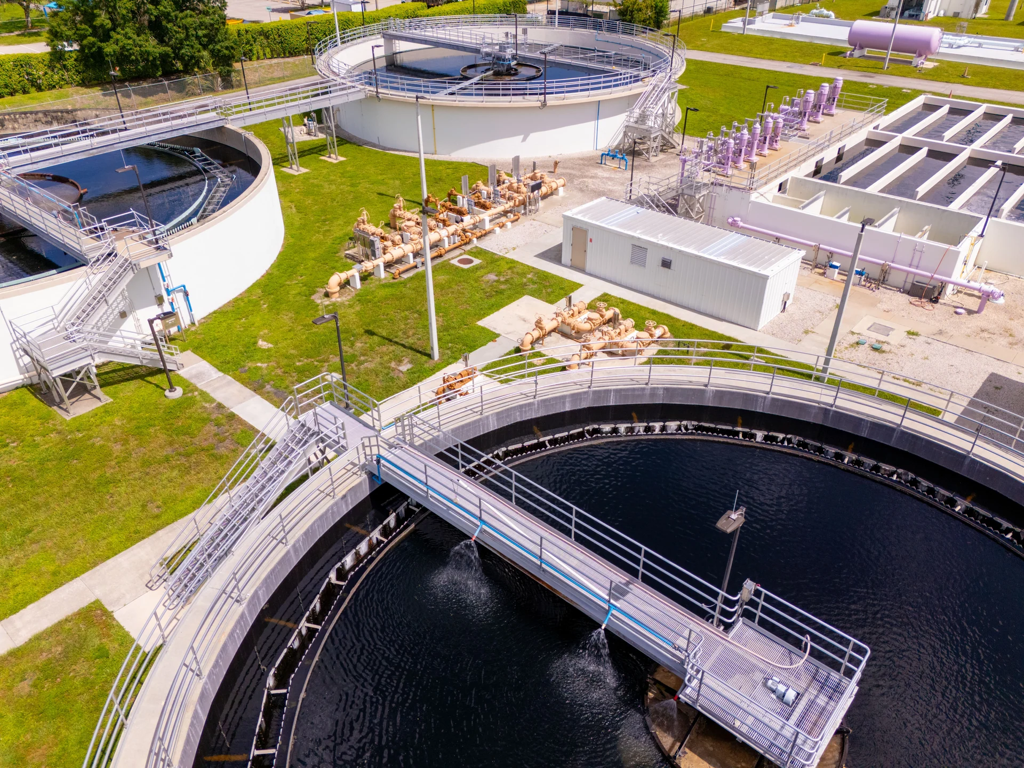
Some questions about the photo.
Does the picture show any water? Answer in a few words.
Yes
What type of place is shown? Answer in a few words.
industrial area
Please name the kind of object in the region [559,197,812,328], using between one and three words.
shed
